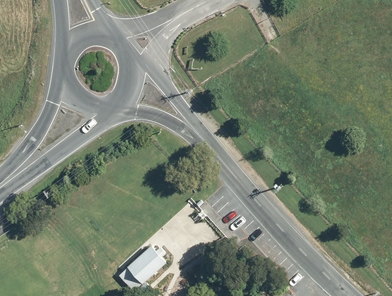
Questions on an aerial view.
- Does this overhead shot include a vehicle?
Yes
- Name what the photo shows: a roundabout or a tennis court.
roundabout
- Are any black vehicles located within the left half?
No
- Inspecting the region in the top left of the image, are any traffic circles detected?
Yes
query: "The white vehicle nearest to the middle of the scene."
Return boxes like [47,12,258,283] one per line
[230,216,247,232]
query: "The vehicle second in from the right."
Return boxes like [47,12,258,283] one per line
[248,228,264,242]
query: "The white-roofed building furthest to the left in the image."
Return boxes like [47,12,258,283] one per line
[119,246,166,290]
